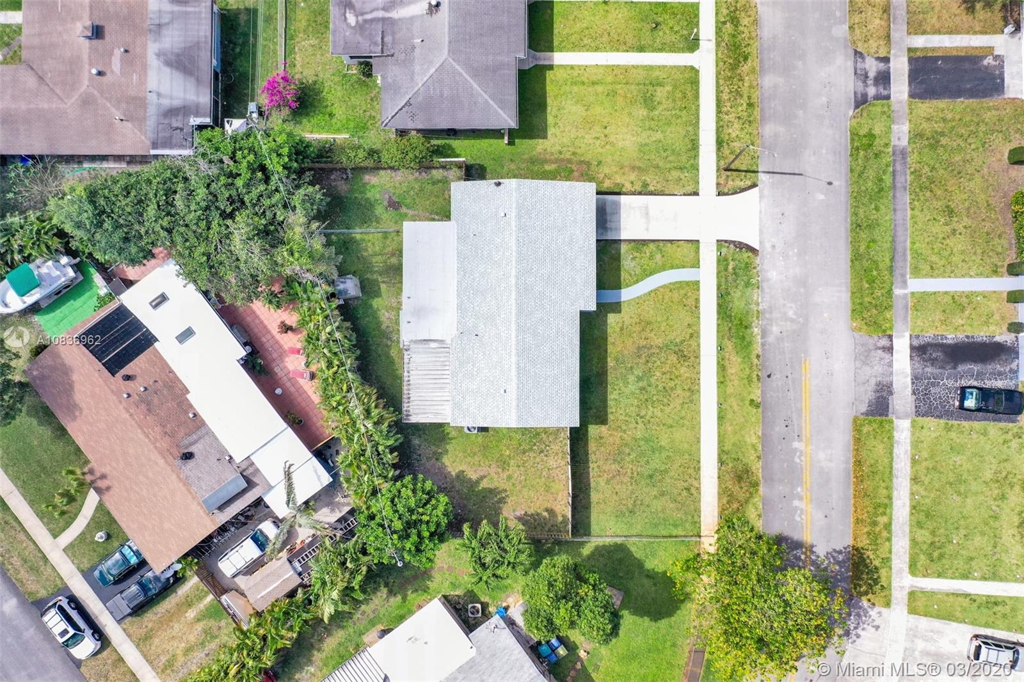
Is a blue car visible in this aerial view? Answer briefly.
Yes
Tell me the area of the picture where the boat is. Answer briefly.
left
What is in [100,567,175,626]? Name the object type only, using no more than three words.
truck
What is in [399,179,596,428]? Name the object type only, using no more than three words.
house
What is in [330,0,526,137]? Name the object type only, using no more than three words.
house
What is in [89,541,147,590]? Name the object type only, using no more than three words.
car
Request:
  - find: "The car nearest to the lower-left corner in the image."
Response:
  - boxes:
[38,599,98,663]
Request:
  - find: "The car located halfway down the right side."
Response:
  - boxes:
[958,386,1024,416]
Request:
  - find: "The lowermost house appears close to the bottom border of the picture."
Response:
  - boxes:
[322,590,550,682]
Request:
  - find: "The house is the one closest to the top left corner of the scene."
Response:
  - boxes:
[0,0,228,155]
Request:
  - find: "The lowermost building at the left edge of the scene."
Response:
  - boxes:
[24,259,337,573]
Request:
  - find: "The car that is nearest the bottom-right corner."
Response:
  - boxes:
[969,641,1024,677]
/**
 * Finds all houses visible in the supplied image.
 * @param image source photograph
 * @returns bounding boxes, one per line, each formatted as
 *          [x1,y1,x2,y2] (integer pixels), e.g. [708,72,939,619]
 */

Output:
[24,259,337,573]
[0,0,228,155]
[322,590,550,682]
[330,0,526,137]
[399,179,596,428]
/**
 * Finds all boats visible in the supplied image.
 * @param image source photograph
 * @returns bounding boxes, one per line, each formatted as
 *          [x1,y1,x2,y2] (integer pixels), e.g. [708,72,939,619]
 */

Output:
[0,251,86,309]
